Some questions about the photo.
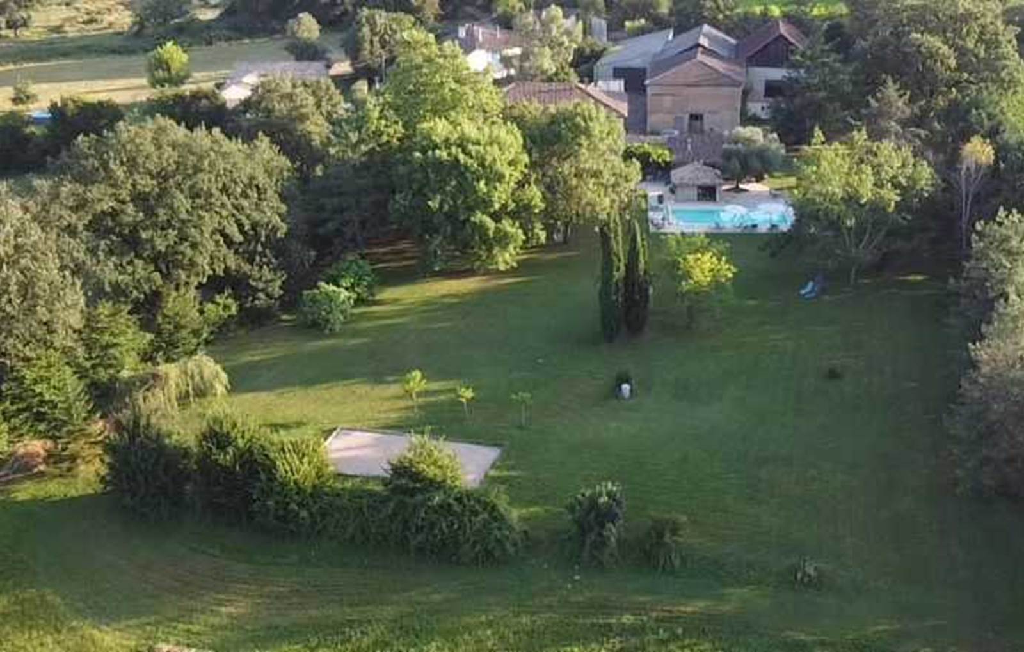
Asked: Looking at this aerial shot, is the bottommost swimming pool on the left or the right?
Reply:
right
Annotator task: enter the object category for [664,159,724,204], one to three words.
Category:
building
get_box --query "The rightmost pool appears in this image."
[670,205,800,228]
